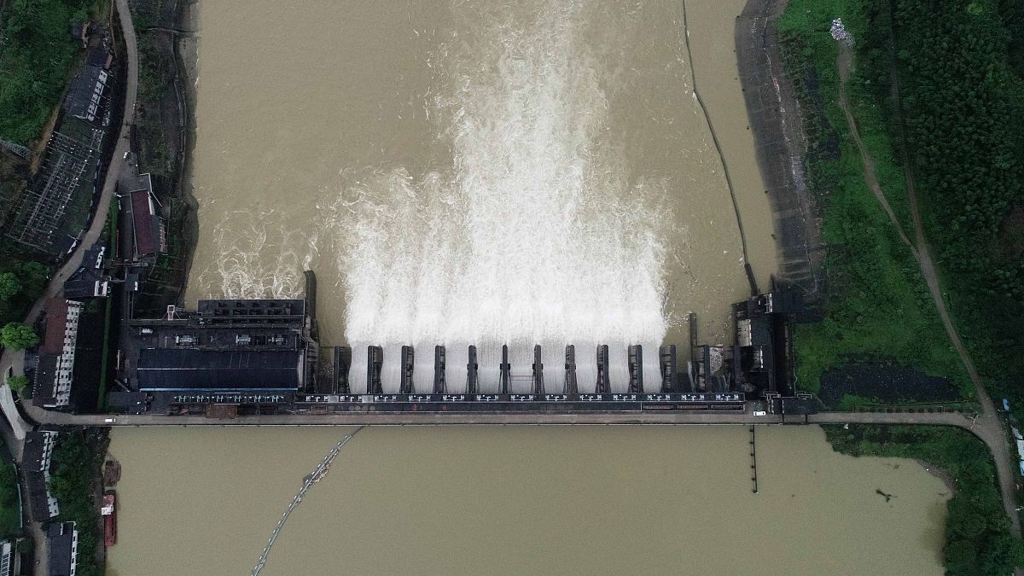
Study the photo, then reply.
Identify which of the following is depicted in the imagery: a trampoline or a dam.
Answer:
dam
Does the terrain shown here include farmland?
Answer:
No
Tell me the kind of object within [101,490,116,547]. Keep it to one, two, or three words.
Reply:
boat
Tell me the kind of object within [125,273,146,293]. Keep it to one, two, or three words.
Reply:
shed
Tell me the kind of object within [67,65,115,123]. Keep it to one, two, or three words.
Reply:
building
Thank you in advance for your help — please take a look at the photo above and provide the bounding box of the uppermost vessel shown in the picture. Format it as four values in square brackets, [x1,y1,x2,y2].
[104,461,120,486]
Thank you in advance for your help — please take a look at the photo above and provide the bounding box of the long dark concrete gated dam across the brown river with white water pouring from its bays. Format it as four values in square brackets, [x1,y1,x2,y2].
[108,346,925,427]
